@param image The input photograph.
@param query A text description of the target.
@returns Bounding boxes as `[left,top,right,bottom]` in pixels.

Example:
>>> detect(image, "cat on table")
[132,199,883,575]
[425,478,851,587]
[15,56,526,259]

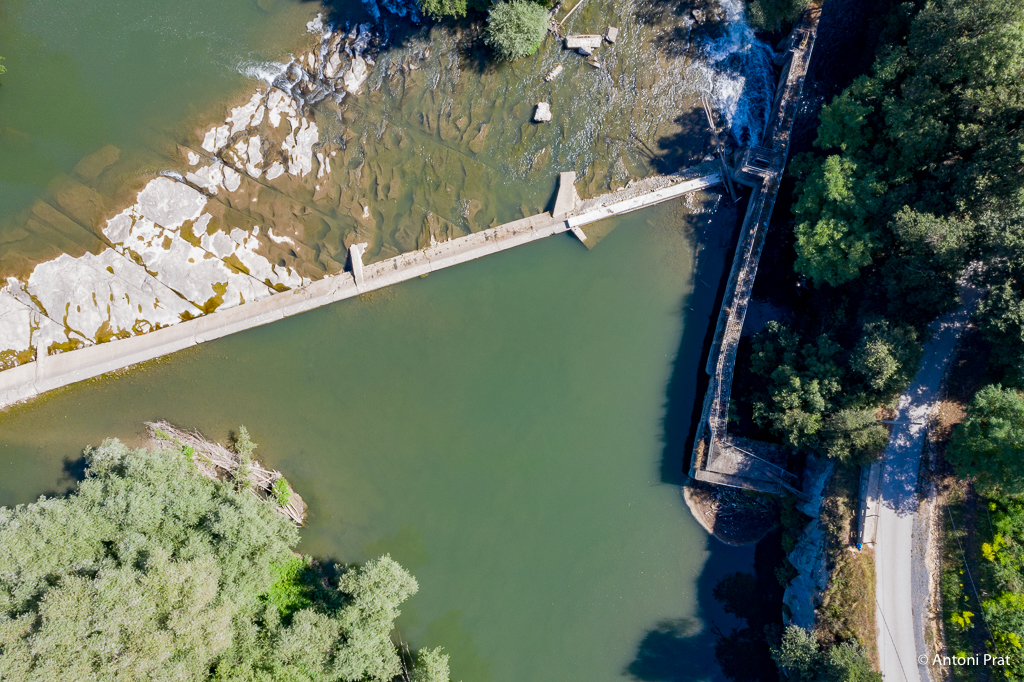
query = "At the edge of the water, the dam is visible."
[0,171,722,410]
